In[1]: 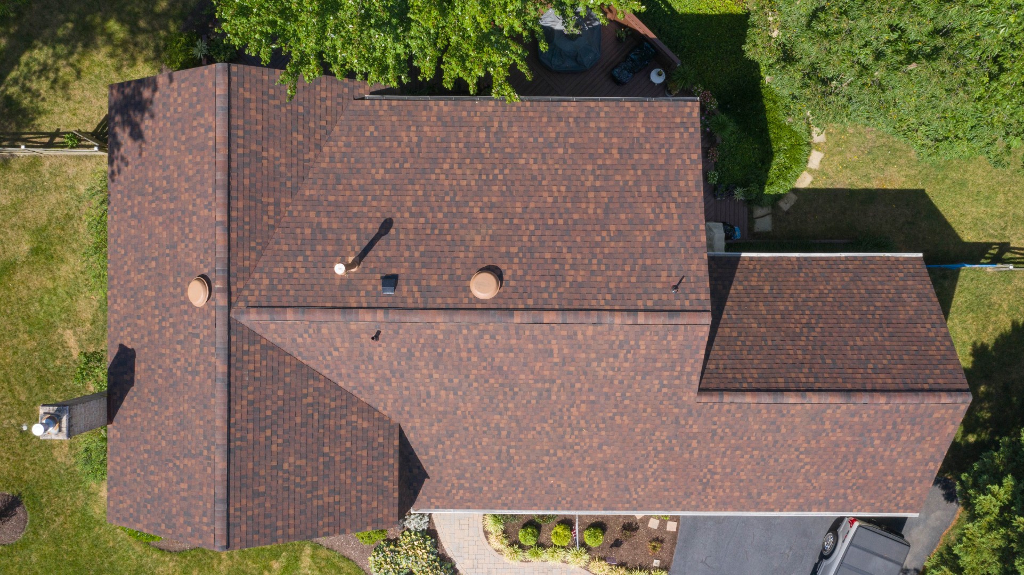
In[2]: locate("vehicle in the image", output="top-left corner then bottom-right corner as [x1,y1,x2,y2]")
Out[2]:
[809,517,911,575]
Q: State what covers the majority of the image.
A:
buildings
